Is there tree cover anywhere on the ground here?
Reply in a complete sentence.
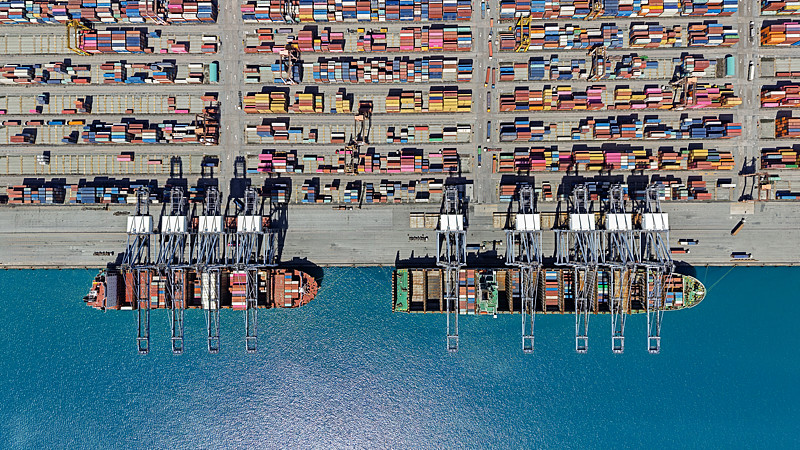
No, the scene doesn't show any tree cover.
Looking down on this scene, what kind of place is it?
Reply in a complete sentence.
This image shows a port.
